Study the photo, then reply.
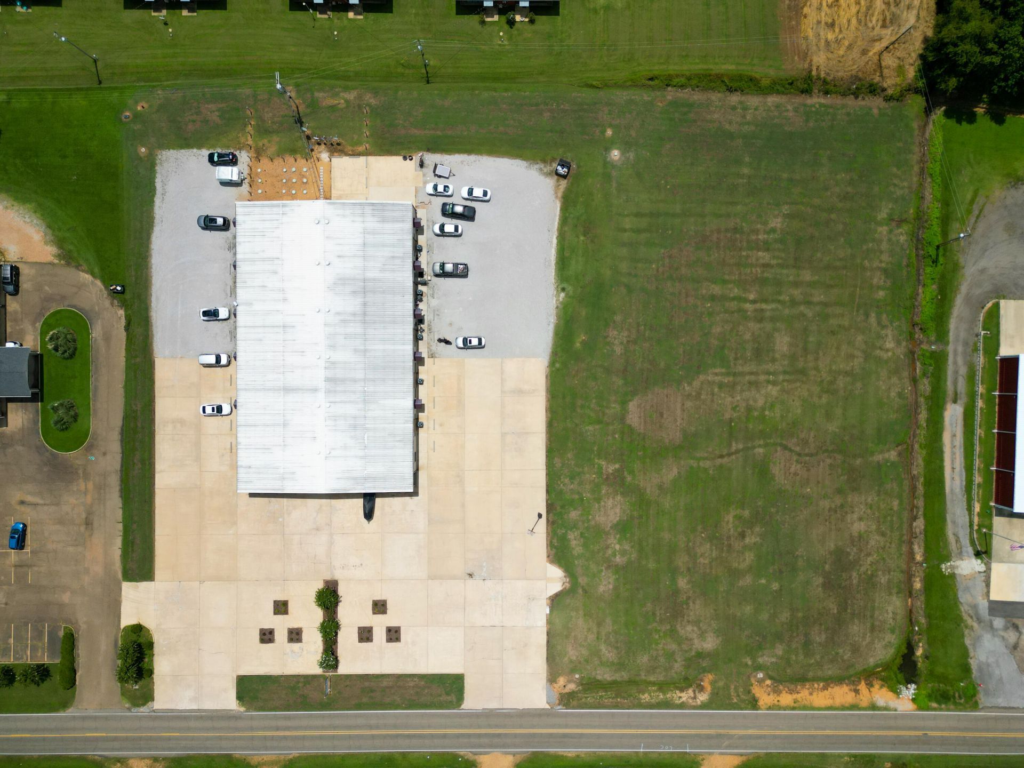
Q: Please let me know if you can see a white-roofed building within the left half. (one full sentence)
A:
Yes, a white-roofed building is visible within the left half.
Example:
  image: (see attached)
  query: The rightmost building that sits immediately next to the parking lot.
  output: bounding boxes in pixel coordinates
[232,198,423,495]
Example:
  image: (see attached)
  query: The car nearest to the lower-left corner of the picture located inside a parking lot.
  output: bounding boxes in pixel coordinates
[10,522,26,550]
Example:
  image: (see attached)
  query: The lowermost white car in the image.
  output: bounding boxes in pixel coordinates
[200,403,231,417]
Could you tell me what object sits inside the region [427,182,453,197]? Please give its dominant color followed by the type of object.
white car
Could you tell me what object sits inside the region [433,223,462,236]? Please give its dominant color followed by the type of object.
white vehicle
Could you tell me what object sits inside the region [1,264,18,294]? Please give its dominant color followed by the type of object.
black car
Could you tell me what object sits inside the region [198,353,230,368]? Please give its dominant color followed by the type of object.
white vehicle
